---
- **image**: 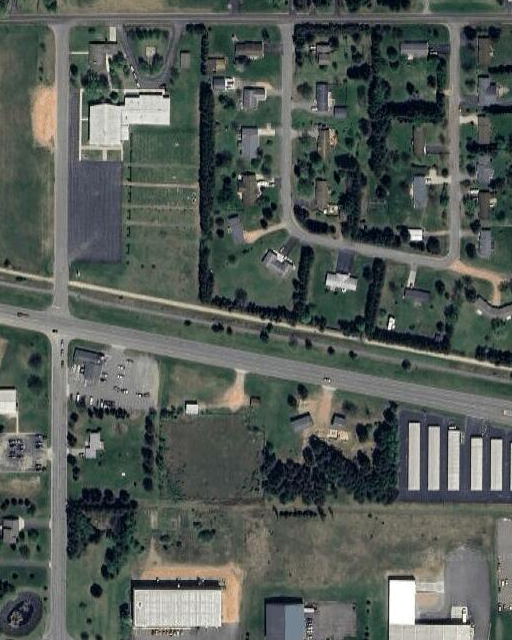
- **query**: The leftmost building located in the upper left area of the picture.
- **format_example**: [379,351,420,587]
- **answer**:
[89,42,117,71]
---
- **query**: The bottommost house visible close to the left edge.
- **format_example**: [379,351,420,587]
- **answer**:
[0,518,19,542]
